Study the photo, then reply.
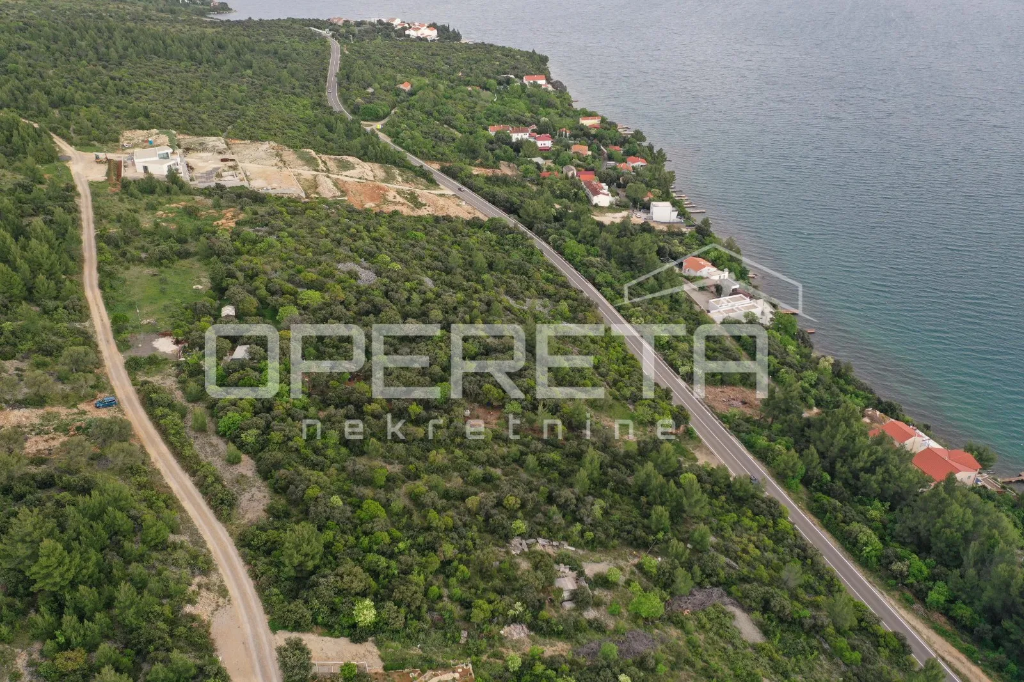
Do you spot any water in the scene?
Yes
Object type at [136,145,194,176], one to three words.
house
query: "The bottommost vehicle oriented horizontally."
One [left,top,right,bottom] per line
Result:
[91,394,119,408]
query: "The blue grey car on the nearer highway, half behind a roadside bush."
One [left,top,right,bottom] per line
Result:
[745,476,762,492]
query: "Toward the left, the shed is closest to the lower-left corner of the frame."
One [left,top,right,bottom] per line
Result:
[230,342,254,365]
